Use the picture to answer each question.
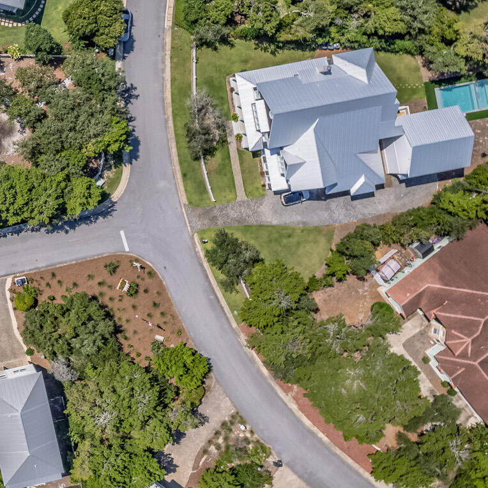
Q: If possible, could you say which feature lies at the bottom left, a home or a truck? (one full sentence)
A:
Looking at the bottom left, you will find a home.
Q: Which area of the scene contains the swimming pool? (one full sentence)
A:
You can find the swimming pool in the top right area of the picture.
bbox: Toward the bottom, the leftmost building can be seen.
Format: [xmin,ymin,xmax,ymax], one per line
[0,355,67,488]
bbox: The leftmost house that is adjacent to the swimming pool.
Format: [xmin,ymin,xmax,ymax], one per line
[224,48,415,195]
